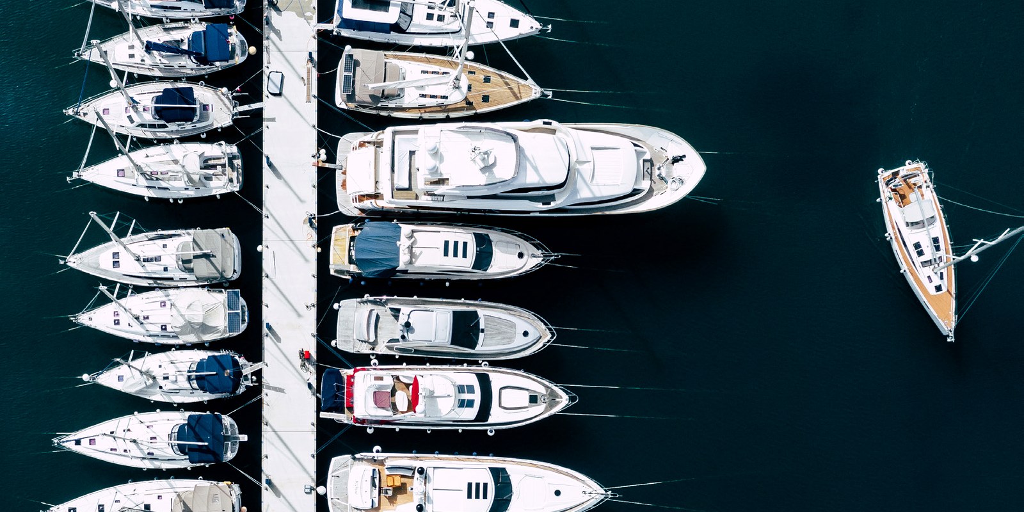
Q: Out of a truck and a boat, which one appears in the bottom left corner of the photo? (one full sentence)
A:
The feature located in the bottom left corner of the photo is a boat.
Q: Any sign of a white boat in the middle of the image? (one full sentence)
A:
Yes, a white boat can be seen in the middle of the image.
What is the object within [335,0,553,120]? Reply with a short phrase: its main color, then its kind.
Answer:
white boat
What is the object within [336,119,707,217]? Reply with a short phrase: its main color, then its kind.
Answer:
white boat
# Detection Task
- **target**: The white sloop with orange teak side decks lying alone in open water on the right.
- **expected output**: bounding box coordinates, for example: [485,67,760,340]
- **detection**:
[878,158,1024,342]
